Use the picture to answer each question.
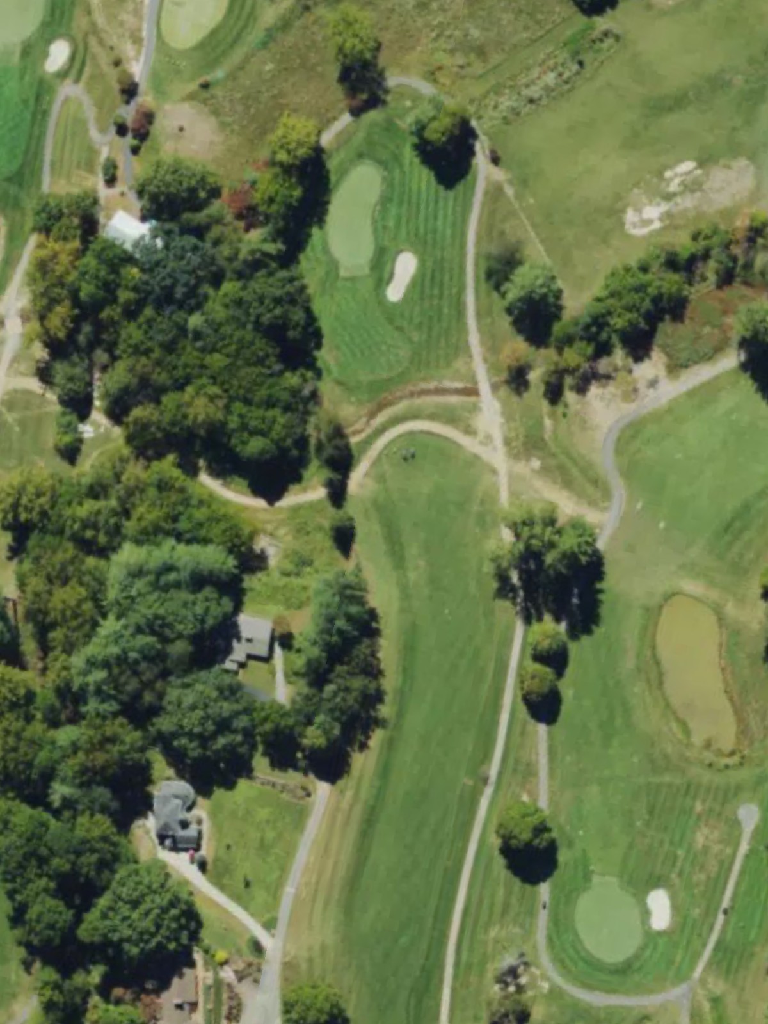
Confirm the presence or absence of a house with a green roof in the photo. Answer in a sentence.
No, the frame has no house with a green roof in it.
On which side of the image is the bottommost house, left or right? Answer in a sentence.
You can find the bottommost house on the left side of the picture.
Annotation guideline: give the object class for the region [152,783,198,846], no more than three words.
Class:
house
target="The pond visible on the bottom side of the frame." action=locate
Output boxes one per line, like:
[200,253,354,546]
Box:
[656,594,736,751]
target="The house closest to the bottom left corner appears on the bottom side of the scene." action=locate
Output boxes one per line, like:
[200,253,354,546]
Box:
[154,966,201,1024]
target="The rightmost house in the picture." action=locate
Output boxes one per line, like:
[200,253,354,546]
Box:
[223,614,275,670]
